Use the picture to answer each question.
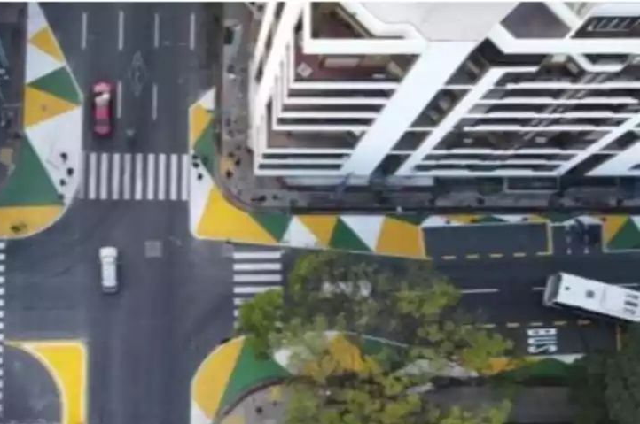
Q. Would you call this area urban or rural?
urban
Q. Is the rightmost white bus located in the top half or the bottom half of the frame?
bottom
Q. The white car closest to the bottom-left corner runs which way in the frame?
vertically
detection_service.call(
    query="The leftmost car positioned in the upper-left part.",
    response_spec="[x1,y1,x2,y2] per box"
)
[89,84,114,136]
